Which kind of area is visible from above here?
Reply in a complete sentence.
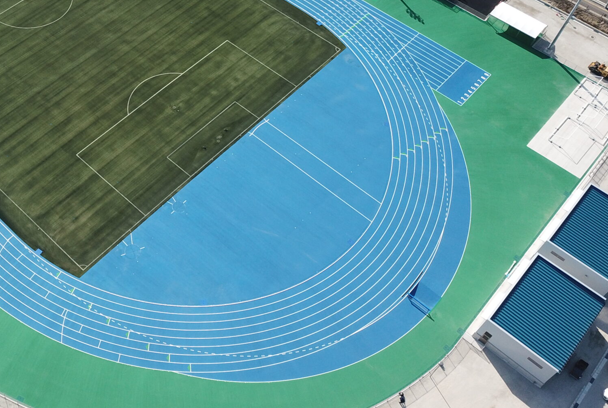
This looks like a sports ground.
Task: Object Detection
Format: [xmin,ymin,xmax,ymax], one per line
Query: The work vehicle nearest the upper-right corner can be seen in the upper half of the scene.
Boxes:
[581,54,608,78]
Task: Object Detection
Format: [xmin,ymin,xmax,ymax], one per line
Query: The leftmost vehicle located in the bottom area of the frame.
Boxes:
[568,352,594,384]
